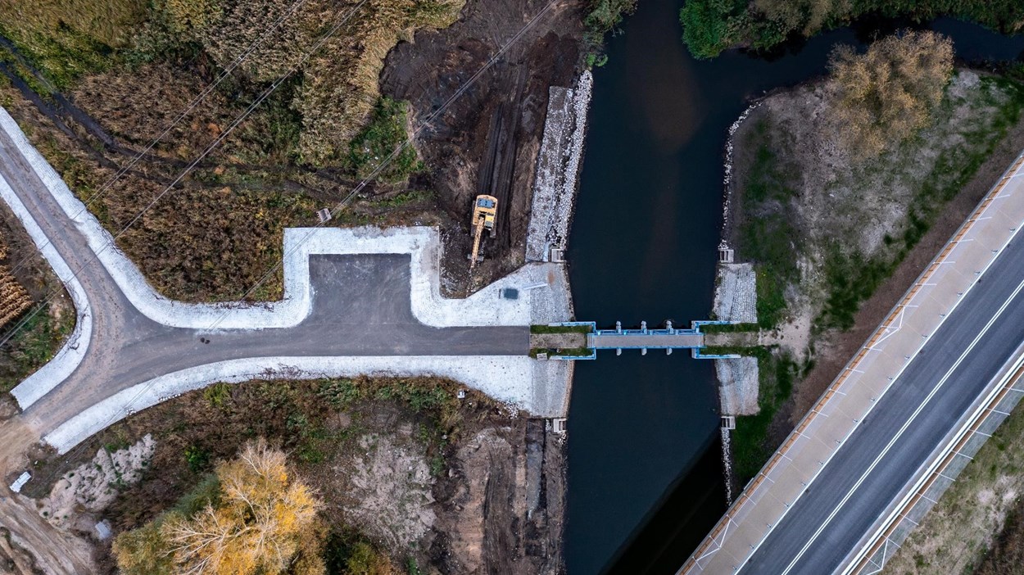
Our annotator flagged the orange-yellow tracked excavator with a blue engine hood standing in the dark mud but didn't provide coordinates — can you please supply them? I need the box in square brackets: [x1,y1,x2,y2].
[470,194,497,263]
